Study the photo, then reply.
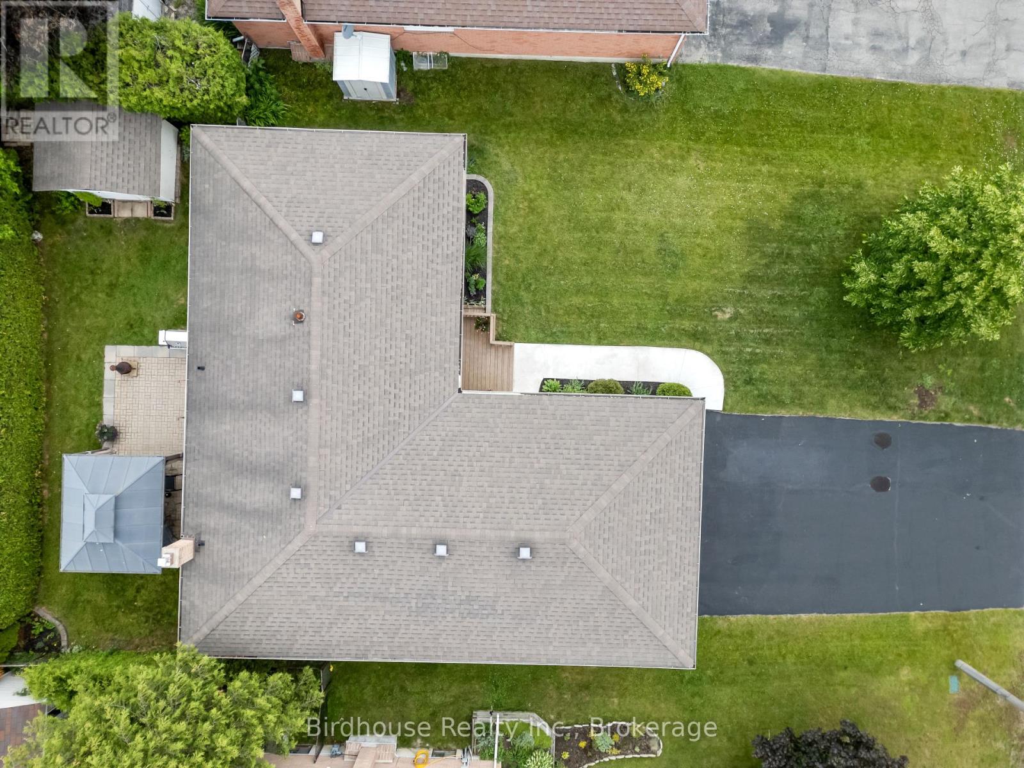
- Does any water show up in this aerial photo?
No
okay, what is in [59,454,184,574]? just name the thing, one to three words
gazebo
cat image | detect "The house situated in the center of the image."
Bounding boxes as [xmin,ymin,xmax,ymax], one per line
[158,125,705,669]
